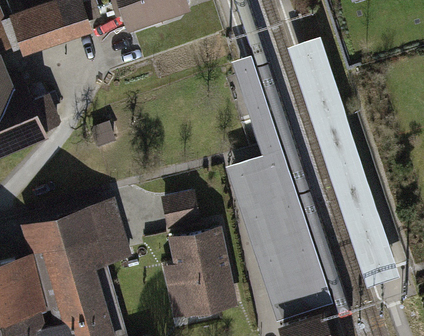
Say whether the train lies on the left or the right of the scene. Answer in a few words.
right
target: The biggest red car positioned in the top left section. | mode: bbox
[94,18,126,36]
